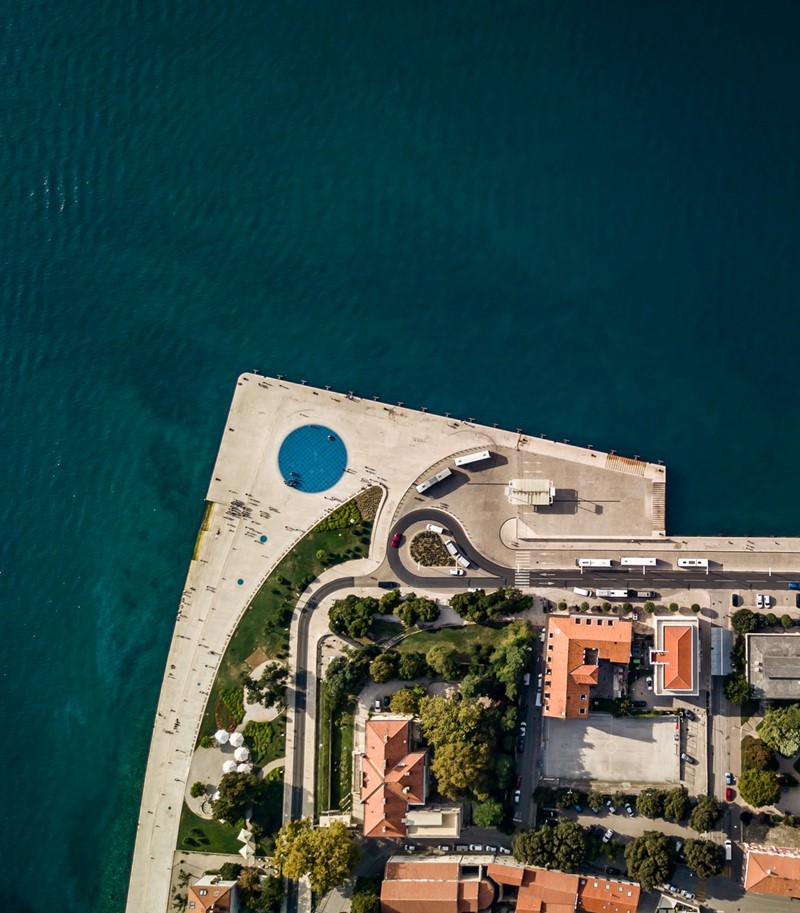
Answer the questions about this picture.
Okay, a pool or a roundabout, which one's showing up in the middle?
roundabout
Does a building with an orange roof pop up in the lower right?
Yes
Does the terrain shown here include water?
Yes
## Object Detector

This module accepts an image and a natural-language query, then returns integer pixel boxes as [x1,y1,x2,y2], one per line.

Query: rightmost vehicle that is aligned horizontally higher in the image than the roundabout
[455,450,492,466]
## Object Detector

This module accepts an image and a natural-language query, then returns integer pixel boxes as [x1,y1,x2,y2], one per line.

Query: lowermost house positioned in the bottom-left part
[188,879,243,913]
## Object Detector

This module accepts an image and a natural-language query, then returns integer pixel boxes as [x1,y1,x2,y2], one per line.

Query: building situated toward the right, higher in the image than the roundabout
[466,480,562,504]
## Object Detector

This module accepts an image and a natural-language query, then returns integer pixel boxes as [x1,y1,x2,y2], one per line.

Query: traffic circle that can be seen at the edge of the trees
[387,506,514,588]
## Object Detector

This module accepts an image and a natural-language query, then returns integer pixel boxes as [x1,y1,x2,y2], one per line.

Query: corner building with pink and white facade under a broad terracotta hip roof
[738,843,800,901]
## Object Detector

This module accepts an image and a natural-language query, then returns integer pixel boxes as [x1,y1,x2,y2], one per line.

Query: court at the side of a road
[542,718,681,784]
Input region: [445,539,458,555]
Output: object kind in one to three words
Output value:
vehicle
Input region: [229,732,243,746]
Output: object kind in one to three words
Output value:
umbrella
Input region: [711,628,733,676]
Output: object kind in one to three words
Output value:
shed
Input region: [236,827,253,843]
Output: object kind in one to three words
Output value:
umbrella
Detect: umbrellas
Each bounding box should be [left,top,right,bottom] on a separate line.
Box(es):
[215,728,229,743]
[236,827,253,843]
[223,759,237,773]
[229,732,243,746]
[237,761,252,775]
[235,746,249,761]
[238,843,255,860]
